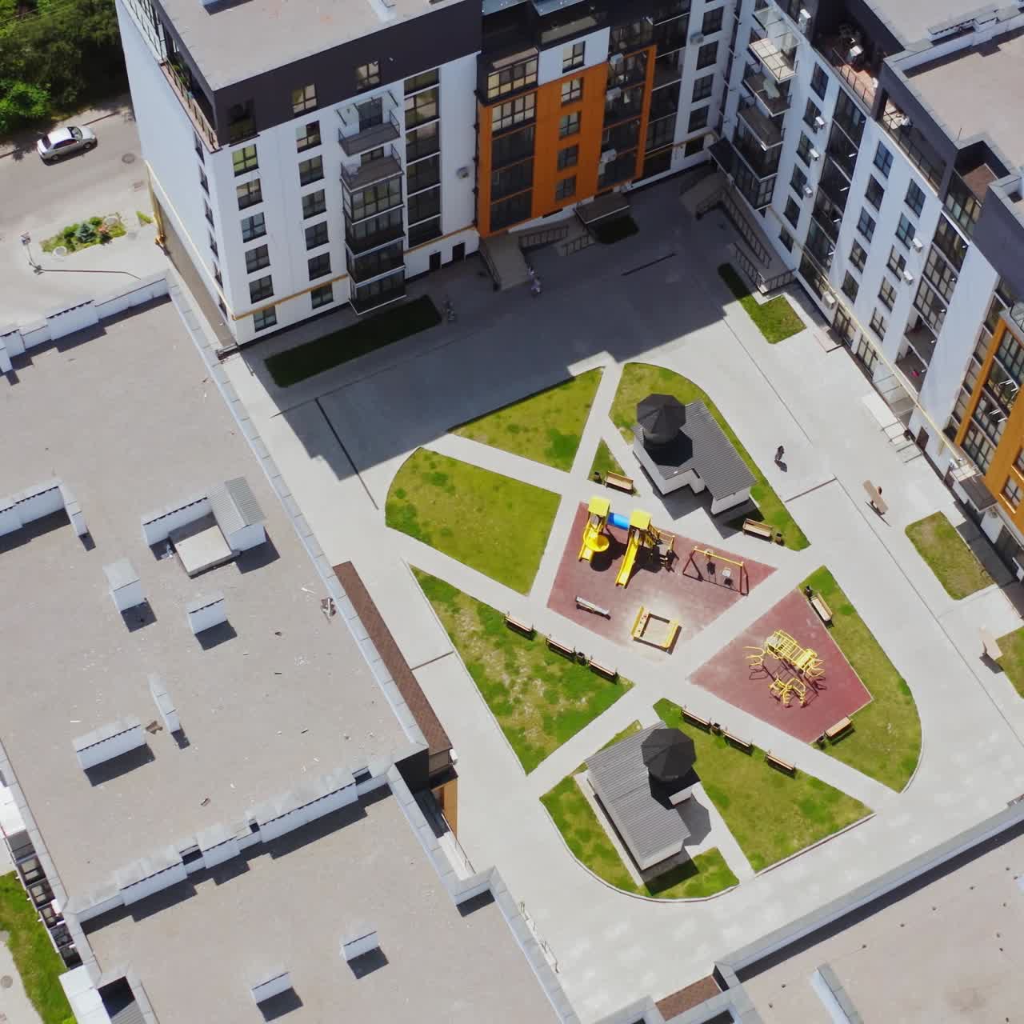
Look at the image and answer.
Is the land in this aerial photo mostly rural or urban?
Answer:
urban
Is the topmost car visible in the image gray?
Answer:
Yes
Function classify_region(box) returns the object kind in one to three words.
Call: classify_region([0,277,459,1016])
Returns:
building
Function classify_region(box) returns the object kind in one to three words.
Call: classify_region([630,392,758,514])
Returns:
shed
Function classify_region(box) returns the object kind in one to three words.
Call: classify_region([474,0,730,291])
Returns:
building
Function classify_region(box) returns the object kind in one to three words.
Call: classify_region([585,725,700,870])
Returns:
shed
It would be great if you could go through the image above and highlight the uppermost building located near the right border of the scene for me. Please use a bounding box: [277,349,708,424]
[685,0,1024,587]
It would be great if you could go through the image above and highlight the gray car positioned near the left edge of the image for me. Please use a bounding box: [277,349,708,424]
[34,123,96,161]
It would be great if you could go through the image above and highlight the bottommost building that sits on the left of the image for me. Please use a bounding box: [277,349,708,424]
[63,758,582,1024]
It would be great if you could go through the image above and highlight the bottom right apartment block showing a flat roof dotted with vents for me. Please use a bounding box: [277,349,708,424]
[596,799,1024,1024]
